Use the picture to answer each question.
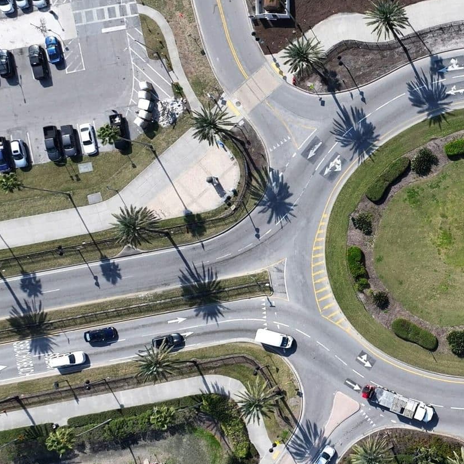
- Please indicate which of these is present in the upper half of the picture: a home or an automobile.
automobile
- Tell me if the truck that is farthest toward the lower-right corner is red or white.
white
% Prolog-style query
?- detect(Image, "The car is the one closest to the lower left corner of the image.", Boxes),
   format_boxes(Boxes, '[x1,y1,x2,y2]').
[50,351,88,367]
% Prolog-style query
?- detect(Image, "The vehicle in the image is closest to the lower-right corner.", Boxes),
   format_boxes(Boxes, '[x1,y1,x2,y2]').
[370,384,437,420]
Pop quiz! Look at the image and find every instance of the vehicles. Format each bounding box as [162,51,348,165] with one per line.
[254,328,296,349]
[42,124,64,161]
[84,327,119,343]
[0,0,16,15]
[50,351,88,367]
[362,383,375,399]
[8,138,29,169]
[80,122,99,155]
[0,136,13,172]
[45,35,63,65]
[0,49,14,81]
[57,123,79,158]
[150,333,187,349]
[314,444,336,464]
[370,384,437,420]
[16,0,31,11]
[27,45,47,82]
[32,0,48,8]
